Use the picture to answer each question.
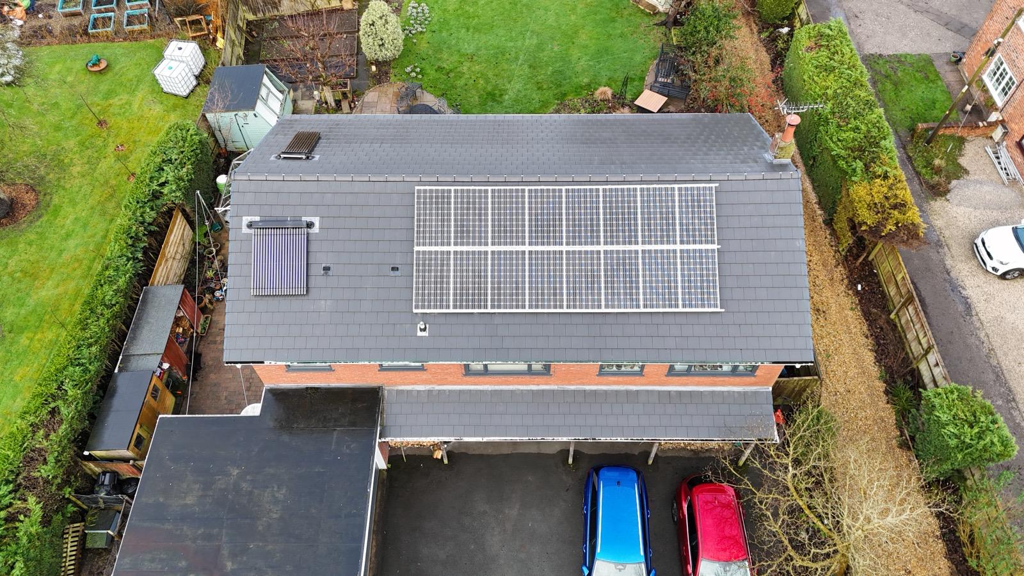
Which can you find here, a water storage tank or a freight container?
water storage tank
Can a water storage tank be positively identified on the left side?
Yes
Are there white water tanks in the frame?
Yes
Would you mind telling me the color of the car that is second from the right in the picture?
red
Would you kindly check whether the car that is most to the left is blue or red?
blue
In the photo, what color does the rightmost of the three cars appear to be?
white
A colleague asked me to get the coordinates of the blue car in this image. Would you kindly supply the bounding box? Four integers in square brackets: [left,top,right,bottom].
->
[578,460,664,576]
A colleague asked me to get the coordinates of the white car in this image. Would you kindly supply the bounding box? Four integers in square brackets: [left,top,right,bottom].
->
[972,207,1024,279]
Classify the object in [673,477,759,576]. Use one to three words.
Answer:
car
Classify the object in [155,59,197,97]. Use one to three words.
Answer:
water tank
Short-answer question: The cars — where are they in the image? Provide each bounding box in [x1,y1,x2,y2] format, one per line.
[578,460,664,576]
[673,477,759,576]
[972,207,1024,279]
